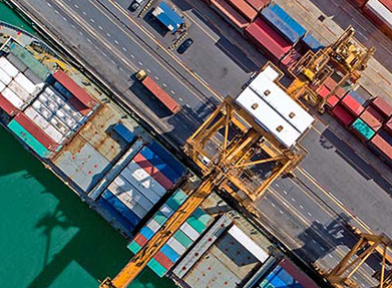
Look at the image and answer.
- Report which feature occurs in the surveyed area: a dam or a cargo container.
cargo container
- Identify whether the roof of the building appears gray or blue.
blue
